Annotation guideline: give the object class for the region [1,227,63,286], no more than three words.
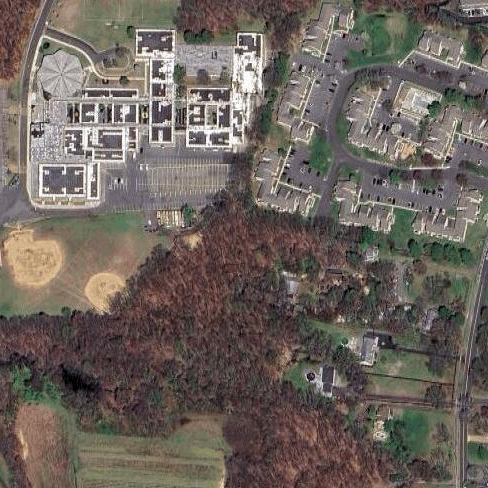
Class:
baseball field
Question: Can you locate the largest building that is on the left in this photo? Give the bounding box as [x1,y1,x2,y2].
[31,29,264,200]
